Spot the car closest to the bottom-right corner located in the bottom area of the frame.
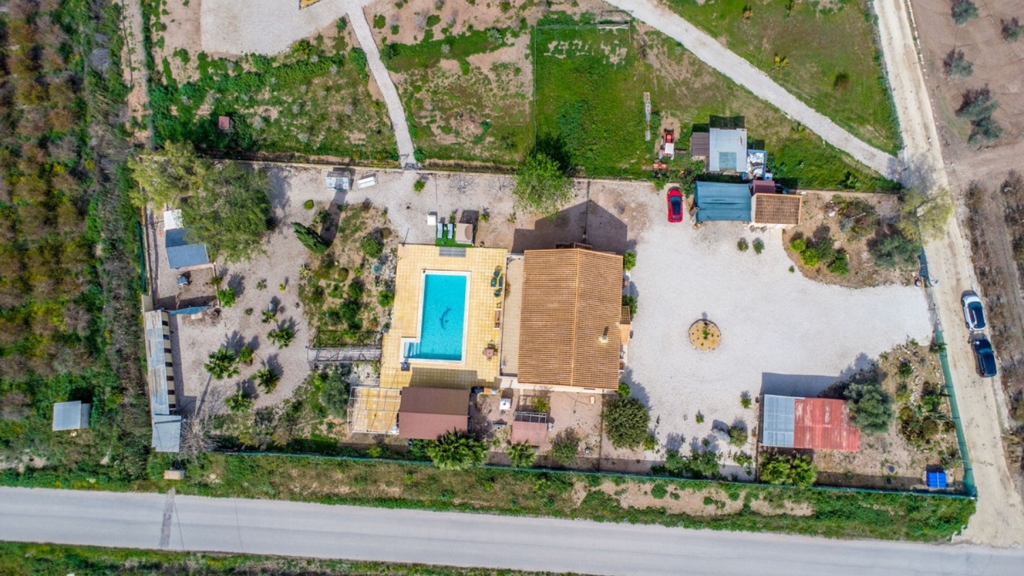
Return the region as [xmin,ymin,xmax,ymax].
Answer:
[969,338,1000,378]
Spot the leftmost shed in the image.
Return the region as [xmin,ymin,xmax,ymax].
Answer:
[53,401,92,431]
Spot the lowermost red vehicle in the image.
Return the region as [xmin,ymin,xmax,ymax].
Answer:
[666,188,684,223]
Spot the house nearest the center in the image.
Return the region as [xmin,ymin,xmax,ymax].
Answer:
[500,244,631,394]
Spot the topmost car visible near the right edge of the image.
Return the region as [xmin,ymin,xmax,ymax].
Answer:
[959,293,989,331]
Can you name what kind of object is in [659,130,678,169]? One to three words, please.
work vehicle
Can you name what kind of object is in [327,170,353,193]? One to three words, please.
shed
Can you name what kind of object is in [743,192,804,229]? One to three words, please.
building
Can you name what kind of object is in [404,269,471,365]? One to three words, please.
swimming pool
